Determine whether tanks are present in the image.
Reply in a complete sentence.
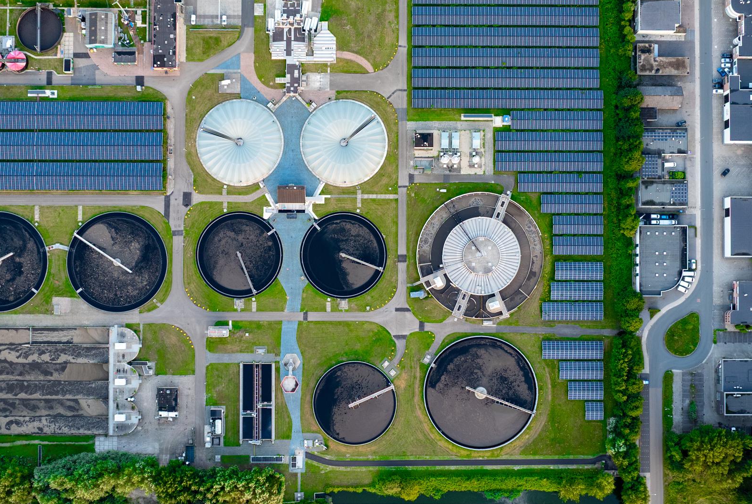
Yes, a tank can be made out from above.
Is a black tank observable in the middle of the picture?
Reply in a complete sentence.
Yes, I can see a black tank in the middle of the picture.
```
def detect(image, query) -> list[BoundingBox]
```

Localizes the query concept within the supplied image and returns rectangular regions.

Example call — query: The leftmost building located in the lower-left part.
[158,386,179,416]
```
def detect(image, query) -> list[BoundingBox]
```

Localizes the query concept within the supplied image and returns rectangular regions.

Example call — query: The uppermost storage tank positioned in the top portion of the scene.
[16,1,65,54]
